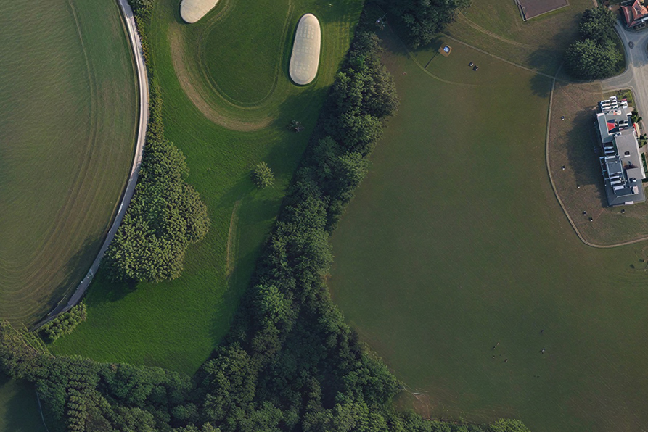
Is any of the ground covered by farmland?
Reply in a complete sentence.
Yes, there's farmland in this view.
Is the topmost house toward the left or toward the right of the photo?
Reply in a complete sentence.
The topmost house sits on the right side.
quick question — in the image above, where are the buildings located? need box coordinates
[620,0,648,29]
[594,107,647,206]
